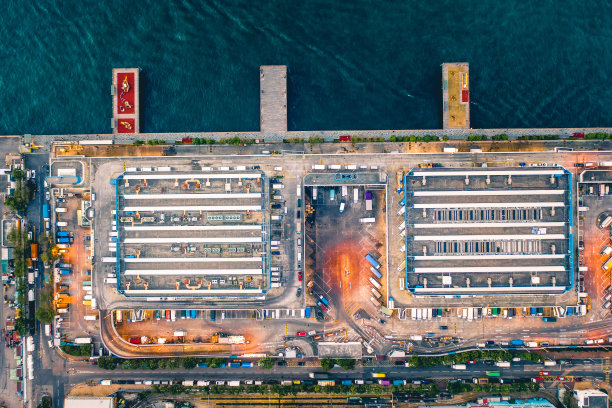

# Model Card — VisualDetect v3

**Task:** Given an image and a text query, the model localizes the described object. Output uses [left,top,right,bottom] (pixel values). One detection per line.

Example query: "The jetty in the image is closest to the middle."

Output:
[260,66,287,132]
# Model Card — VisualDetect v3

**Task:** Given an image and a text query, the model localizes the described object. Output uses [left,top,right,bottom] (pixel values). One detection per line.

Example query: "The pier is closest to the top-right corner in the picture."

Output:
[440,63,469,130]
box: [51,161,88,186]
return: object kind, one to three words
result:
house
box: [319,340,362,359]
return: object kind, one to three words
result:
building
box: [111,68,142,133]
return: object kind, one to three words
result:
pier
